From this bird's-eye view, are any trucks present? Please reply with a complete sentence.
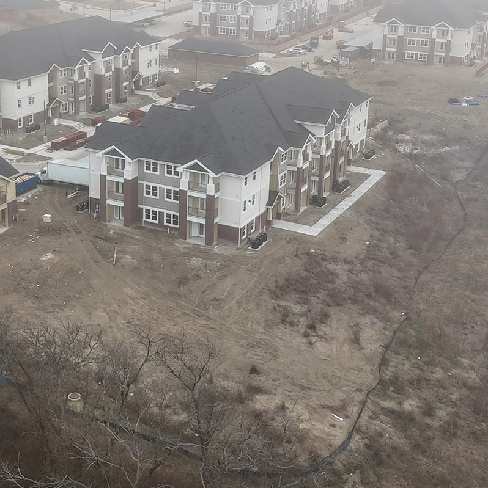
Yes, a truck appears in the view.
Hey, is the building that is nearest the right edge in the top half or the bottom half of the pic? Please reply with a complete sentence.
Seen from above, the building that is nearest the right edge lies in the top half of the view.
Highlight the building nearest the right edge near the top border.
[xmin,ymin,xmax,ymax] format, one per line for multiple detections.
[367,0,488,67]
